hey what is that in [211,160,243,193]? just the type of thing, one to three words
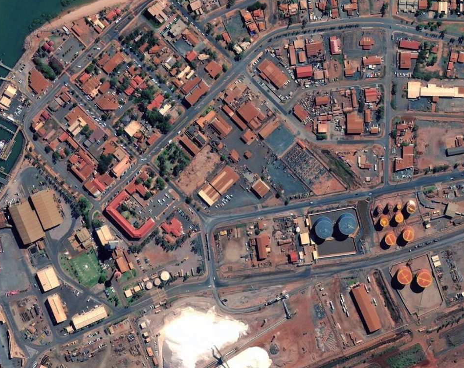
building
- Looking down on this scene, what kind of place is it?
residential area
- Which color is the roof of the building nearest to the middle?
red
